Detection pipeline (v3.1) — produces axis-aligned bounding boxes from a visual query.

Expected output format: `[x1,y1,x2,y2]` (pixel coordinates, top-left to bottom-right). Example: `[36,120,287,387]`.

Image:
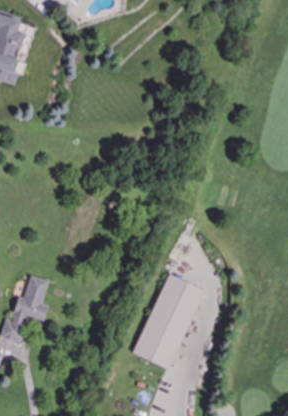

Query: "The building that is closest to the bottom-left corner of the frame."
[0,274,52,348]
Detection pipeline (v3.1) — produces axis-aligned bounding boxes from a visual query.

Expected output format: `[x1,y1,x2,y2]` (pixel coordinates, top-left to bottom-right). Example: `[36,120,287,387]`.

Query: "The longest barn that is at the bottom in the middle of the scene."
[135,275,202,368]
